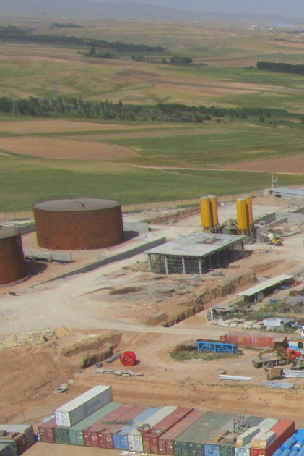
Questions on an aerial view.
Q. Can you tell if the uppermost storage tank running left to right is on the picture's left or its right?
left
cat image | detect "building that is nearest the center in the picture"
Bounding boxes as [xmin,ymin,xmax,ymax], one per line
[146,232,245,275]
